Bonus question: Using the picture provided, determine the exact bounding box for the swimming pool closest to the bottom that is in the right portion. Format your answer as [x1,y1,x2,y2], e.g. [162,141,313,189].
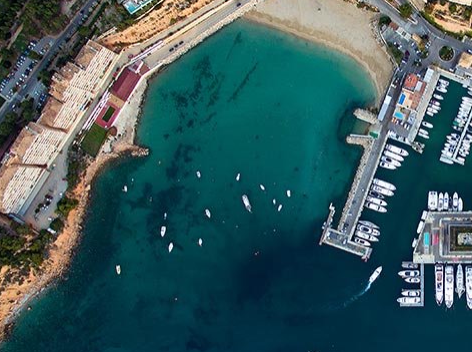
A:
[390,105,408,121]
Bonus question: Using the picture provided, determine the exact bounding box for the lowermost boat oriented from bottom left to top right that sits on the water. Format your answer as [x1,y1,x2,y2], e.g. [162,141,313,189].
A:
[367,266,381,284]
